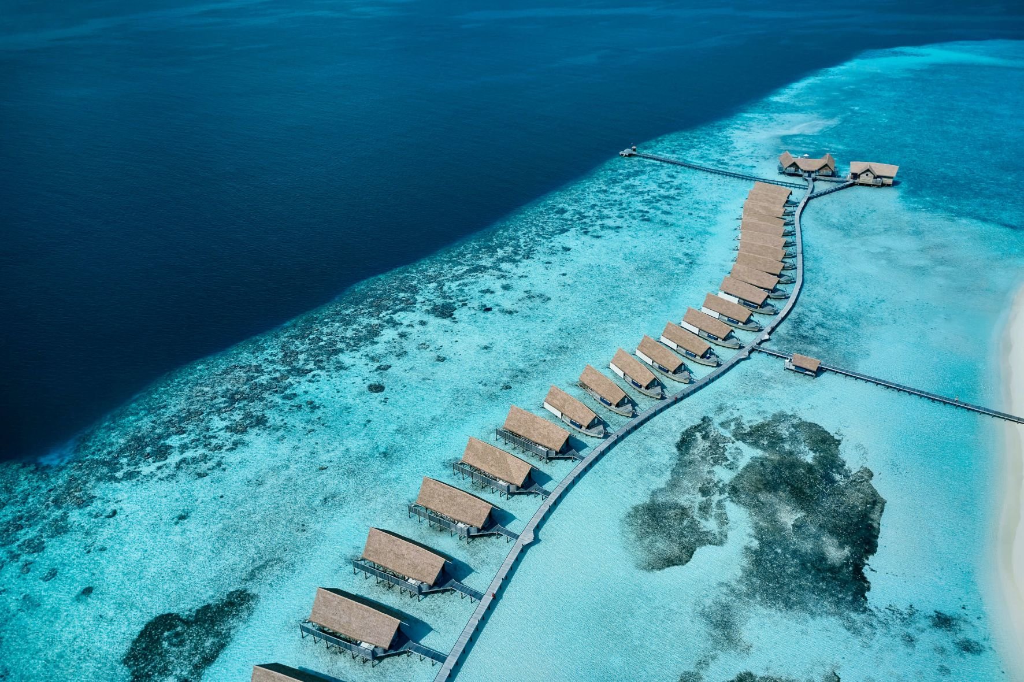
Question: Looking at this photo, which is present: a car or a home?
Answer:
home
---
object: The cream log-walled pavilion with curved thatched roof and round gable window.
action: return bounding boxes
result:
[844,161,899,189]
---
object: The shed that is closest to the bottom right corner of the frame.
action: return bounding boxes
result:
[783,350,823,383]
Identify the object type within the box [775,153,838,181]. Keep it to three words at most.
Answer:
building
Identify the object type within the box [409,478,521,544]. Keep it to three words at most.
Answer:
house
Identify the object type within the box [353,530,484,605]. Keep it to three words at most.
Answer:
house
